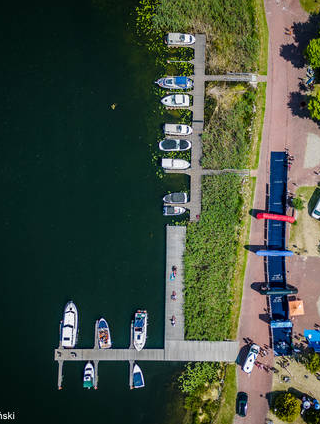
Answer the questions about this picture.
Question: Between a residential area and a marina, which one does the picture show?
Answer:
marina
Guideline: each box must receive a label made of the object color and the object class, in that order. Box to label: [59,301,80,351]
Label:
white boat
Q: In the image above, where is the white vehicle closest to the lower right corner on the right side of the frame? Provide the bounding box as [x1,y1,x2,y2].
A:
[241,342,259,375]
